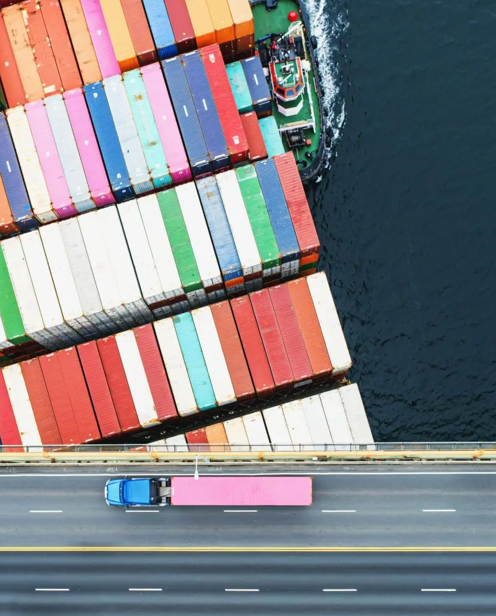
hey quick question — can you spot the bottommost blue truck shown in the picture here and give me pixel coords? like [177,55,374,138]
[104,475,172,509]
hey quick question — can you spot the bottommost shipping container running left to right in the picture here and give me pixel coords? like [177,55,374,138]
[172,477,312,506]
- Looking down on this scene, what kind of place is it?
port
